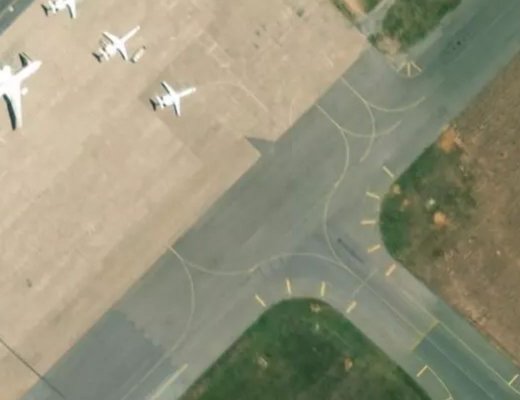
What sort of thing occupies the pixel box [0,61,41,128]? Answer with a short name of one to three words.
airplane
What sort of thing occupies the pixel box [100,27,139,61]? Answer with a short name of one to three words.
airplane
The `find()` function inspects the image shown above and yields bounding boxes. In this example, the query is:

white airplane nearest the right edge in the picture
[156,81,196,116]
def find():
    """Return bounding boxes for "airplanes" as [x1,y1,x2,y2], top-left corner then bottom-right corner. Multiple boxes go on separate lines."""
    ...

[156,81,196,116]
[47,0,75,18]
[0,61,41,128]
[100,27,139,61]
